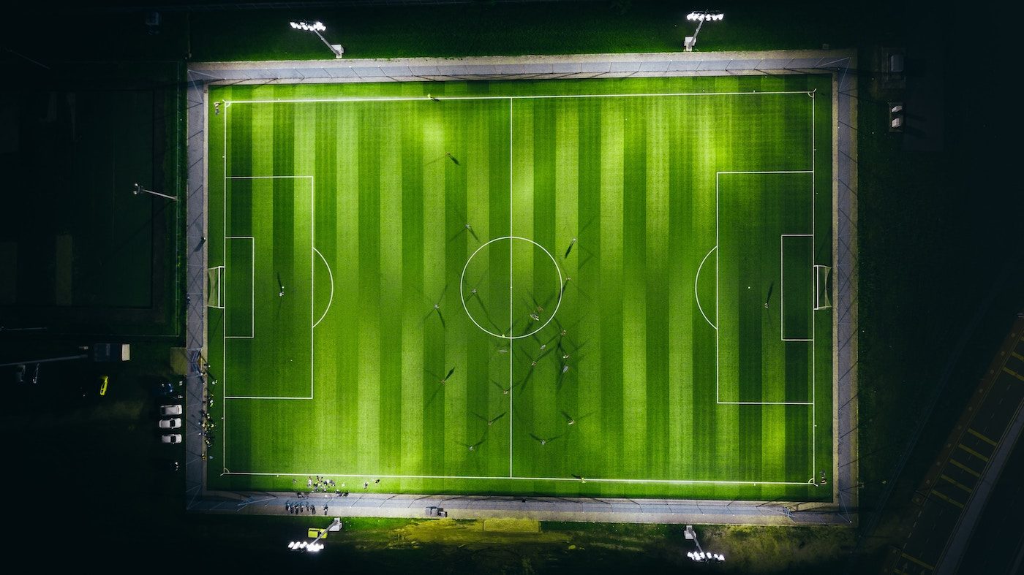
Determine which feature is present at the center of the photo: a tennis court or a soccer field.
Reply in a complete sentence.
Looking at the center of the photo, you will find a soccer field.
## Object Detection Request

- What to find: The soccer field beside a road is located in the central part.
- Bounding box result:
[207,73,833,502]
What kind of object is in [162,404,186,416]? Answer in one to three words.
vehicle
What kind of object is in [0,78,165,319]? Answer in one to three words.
sports field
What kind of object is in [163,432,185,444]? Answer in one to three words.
vehicle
